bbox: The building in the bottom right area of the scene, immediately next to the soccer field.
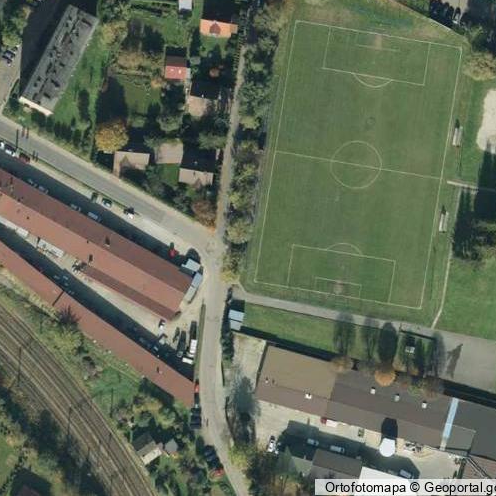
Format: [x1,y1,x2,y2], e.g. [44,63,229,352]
[255,345,496,460]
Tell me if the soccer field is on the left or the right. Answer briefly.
right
